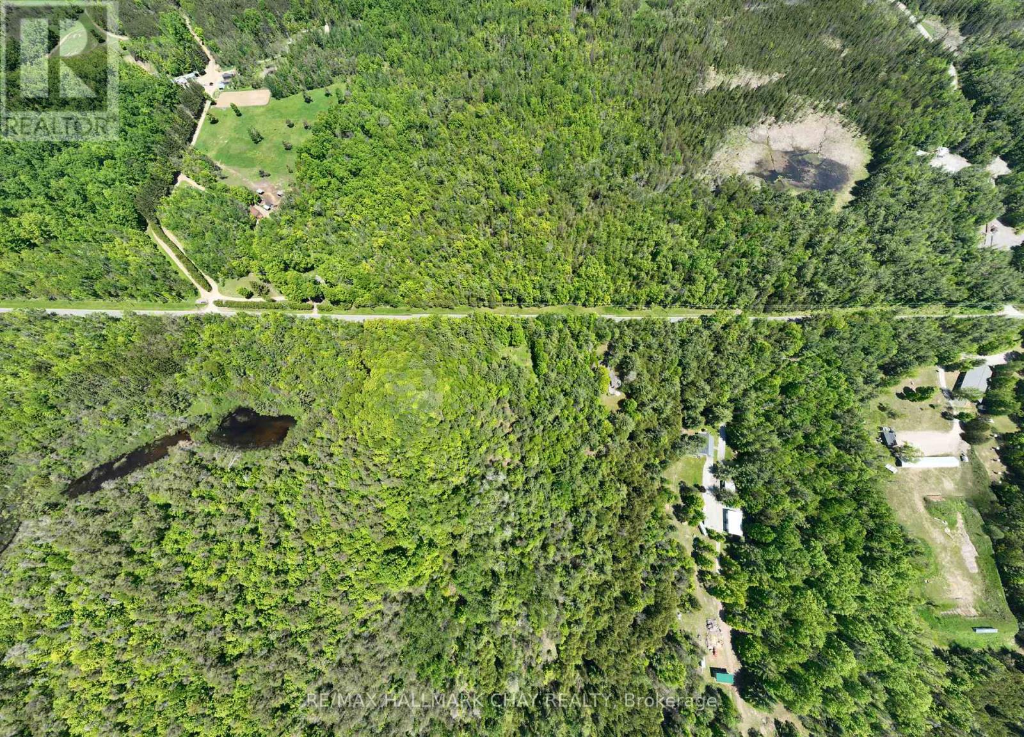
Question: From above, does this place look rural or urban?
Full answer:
The land in this view is best described as rural.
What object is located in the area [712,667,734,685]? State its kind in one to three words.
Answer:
shed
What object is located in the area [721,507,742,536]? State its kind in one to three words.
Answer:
building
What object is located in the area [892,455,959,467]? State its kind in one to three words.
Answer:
barn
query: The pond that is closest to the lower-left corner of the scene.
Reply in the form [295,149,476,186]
[209,408,295,448]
